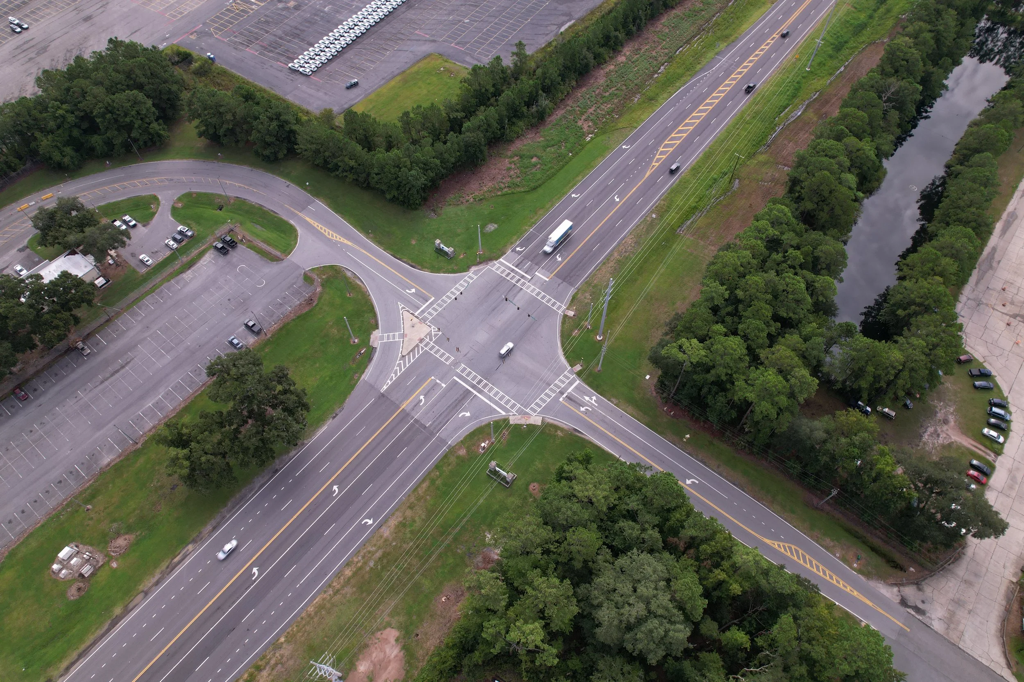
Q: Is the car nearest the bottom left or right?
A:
left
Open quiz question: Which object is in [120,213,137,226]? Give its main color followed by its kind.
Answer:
white vehicle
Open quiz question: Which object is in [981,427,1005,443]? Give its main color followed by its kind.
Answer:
white car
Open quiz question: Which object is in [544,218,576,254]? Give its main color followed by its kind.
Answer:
white truck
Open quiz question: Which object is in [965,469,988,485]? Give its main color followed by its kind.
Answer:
red car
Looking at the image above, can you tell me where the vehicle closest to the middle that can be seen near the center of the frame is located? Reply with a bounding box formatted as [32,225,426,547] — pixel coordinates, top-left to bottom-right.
[498,342,514,356]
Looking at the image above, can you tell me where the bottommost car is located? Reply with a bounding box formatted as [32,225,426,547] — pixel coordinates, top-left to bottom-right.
[216,538,239,561]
